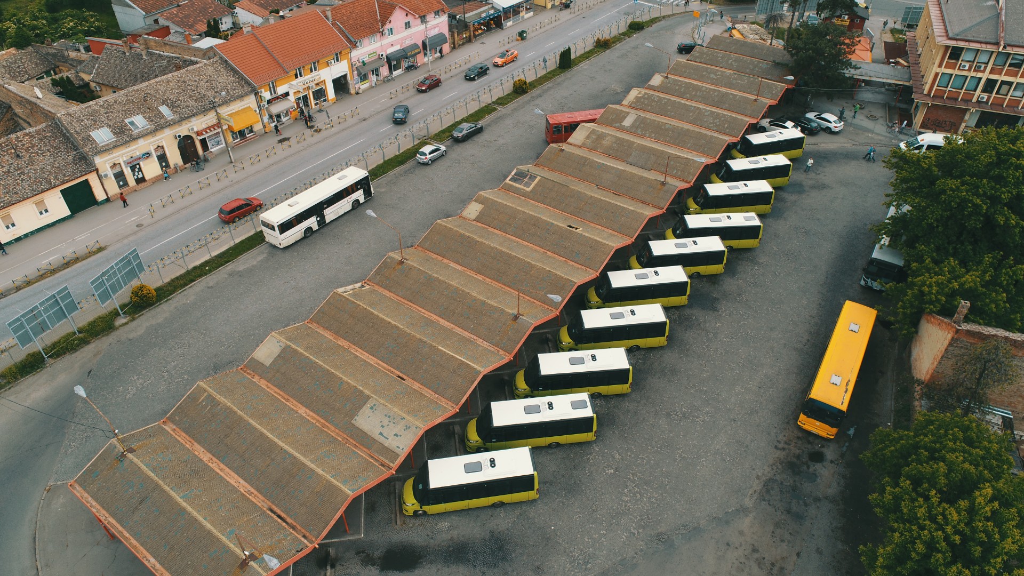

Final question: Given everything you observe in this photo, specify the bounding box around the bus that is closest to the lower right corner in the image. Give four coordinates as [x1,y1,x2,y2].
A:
[799,302,876,436]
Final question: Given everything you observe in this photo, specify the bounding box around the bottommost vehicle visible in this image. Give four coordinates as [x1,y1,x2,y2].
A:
[403,447,539,518]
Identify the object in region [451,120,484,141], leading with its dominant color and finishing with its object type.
gray car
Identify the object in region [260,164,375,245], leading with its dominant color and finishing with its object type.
white bus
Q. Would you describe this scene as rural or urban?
urban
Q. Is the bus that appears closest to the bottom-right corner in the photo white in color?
No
